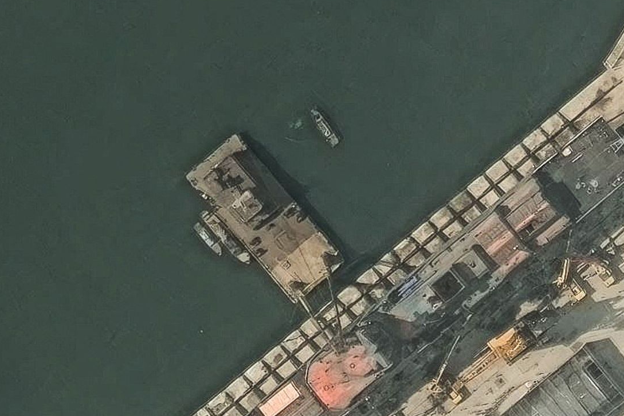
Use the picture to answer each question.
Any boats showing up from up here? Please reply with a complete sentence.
Yes, a boat is visible in the scene.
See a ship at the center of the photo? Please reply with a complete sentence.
Yes, a ship can be seen at the center of the photo.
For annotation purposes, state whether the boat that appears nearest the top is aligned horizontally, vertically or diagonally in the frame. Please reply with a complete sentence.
In this picture, the boat that appears nearest the top lies diagonally.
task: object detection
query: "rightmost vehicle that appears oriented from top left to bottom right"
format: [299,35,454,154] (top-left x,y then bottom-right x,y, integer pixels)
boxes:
[587,257,615,285]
